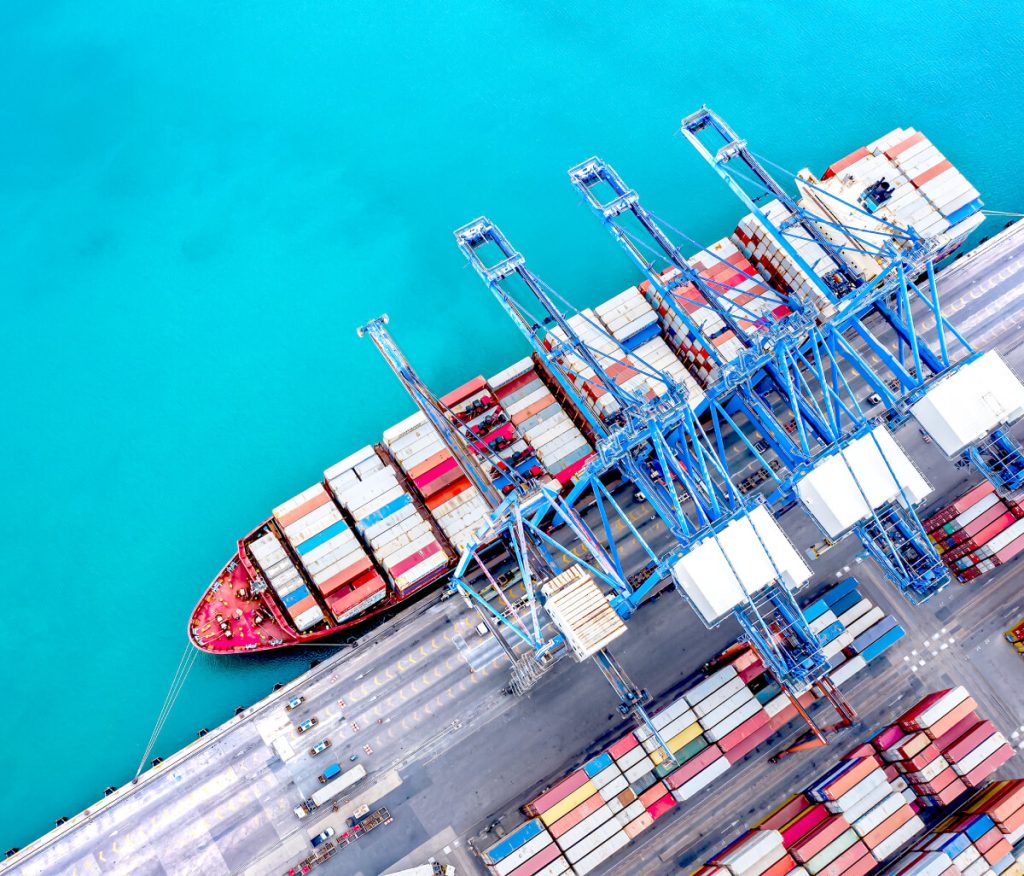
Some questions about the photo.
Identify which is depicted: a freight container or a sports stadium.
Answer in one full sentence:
The one in the frame is a freight container.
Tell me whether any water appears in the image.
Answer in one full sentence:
Yes, water shows up in the scene.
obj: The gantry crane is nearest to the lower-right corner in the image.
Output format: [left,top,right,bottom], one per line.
[710,621,858,764]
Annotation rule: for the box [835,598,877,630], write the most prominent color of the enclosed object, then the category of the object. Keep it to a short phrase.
white shipping container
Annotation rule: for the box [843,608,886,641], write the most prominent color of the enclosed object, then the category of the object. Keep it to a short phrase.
white shipping container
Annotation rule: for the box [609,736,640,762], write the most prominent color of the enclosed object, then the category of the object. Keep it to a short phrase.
red shipping container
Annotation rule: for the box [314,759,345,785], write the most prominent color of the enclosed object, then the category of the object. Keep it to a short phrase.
blue truck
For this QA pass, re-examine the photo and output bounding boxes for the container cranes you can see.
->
[451,209,838,703]
[567,150,958,616]
[682,100,1024,534]
[356,305,691,776]
[710,621,858,764]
